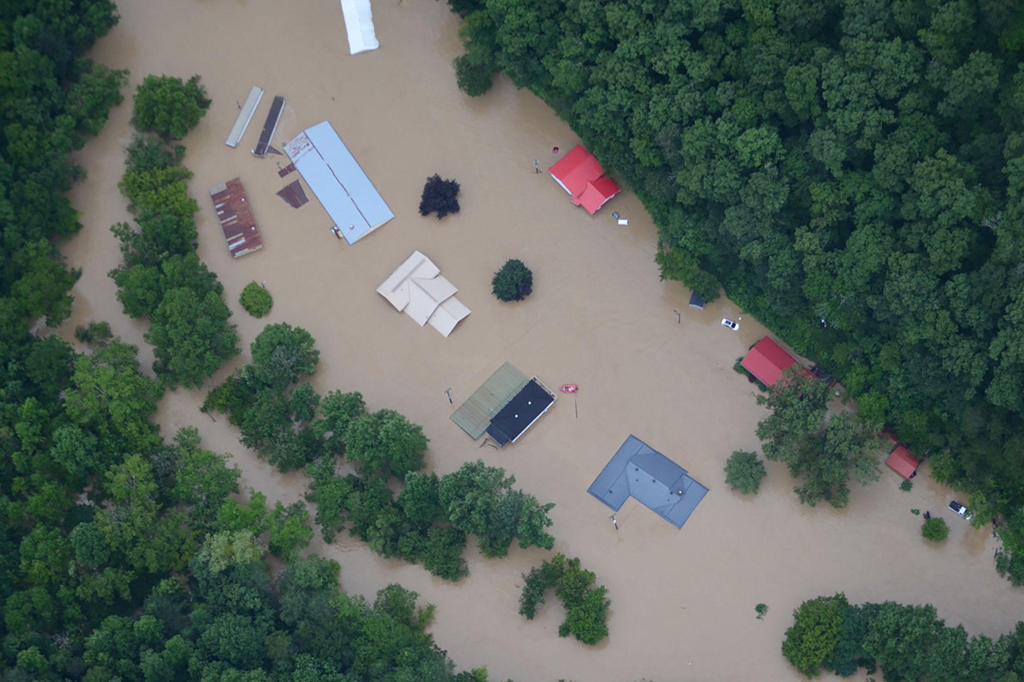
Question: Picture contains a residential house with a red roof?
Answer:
Yes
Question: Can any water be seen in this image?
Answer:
Yes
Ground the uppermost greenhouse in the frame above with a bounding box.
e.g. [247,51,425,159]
[342,0,378,54]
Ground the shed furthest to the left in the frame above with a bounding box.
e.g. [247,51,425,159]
[210,177,263,258]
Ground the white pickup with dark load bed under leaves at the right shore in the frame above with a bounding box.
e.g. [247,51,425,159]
[945,498,972,522]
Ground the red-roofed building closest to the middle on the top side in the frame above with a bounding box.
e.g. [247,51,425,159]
[548,144,621,215]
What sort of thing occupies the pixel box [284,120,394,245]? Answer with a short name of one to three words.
barn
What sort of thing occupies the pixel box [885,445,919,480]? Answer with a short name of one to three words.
building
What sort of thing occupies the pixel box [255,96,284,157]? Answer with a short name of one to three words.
trailer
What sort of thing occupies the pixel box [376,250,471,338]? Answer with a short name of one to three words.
house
